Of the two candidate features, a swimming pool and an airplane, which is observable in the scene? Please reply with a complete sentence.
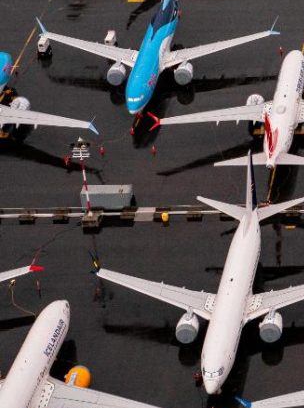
There is an airplane in the scene.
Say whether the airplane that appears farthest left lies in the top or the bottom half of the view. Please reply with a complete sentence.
The airplane that appears farthest left sits in the bottom half of the picture.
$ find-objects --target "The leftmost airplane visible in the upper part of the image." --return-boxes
[0,54,99,139]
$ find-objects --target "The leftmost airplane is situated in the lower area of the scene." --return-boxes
[0,248,46,284]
